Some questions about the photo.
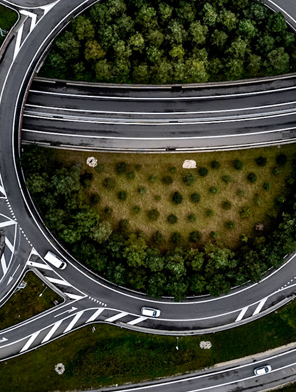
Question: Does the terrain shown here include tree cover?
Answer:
Yes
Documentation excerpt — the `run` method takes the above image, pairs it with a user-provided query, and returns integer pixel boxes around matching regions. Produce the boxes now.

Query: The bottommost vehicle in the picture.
[254,366,273,378]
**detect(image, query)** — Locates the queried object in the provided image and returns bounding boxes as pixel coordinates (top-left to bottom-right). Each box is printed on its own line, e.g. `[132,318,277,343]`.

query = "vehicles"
[43,252,64,270]
[141,308,161,319]
[254,366,273,378]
